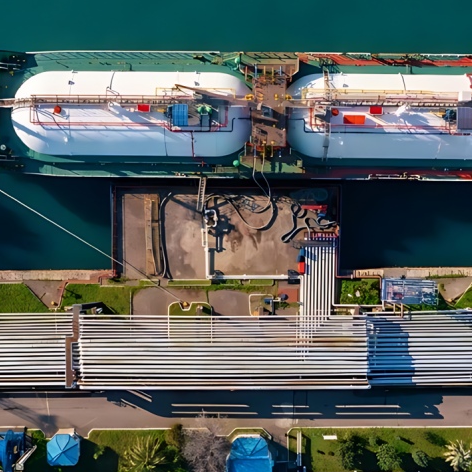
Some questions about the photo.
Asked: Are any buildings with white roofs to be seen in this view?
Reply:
No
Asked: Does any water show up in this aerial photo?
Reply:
Yes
